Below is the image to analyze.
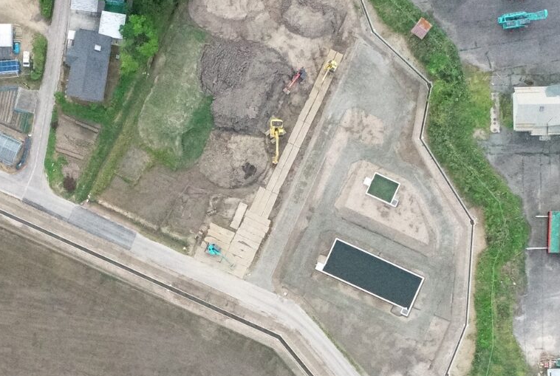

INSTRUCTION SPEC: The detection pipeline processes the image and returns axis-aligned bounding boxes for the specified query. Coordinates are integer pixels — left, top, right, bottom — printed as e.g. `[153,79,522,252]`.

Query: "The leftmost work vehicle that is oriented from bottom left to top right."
[285,66,309,95]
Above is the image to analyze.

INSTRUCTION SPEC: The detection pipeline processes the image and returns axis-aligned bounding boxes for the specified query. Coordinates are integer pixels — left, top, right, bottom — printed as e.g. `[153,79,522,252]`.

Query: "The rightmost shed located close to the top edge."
[408,18,433,43]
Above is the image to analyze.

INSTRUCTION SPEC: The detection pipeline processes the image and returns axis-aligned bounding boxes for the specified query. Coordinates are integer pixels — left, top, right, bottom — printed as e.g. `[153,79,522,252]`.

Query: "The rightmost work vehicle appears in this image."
[318,57,339,84]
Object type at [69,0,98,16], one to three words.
building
